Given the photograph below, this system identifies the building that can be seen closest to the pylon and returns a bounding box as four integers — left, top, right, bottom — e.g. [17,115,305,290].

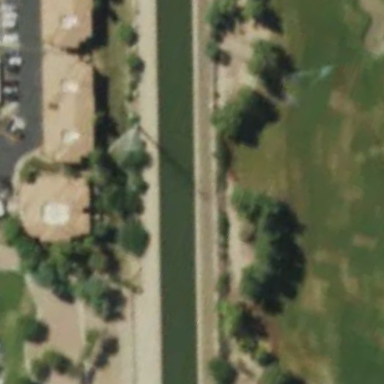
[42,53,100,163]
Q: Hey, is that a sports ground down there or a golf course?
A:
golf course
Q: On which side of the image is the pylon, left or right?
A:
left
